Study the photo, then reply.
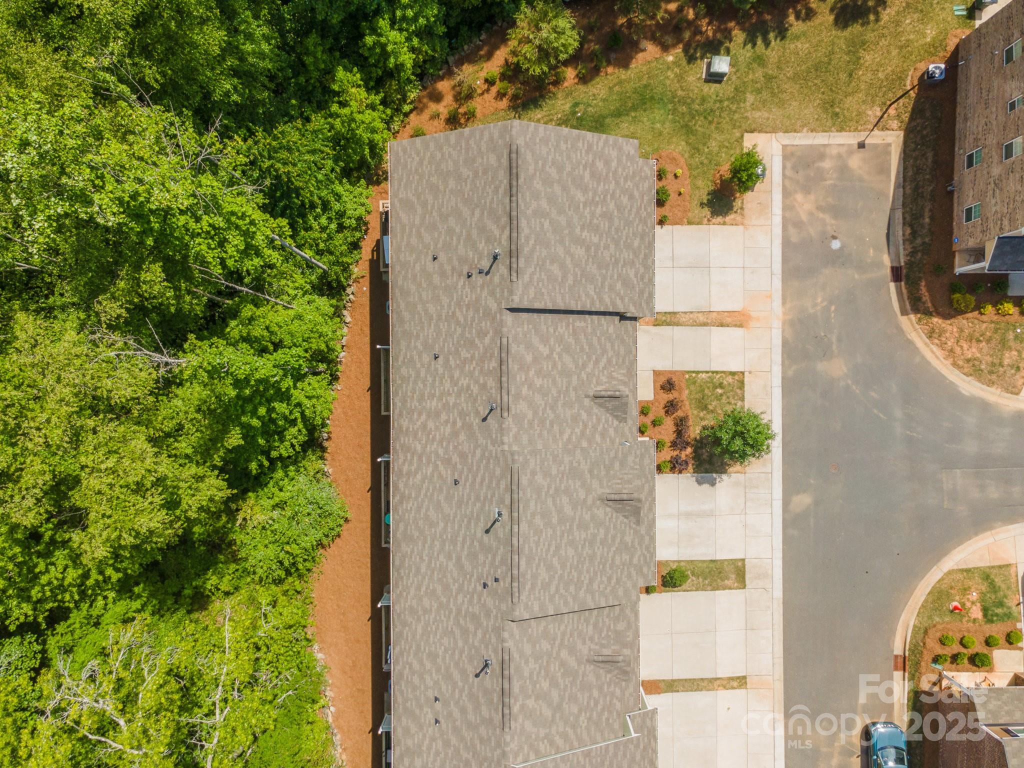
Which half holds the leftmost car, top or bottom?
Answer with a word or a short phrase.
bottom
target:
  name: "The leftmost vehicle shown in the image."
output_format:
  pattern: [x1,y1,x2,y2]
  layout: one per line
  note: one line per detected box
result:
[866,719,912,768]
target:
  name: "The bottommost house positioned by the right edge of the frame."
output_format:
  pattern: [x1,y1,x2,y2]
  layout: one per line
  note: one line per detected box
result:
[939,670,1024,768]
